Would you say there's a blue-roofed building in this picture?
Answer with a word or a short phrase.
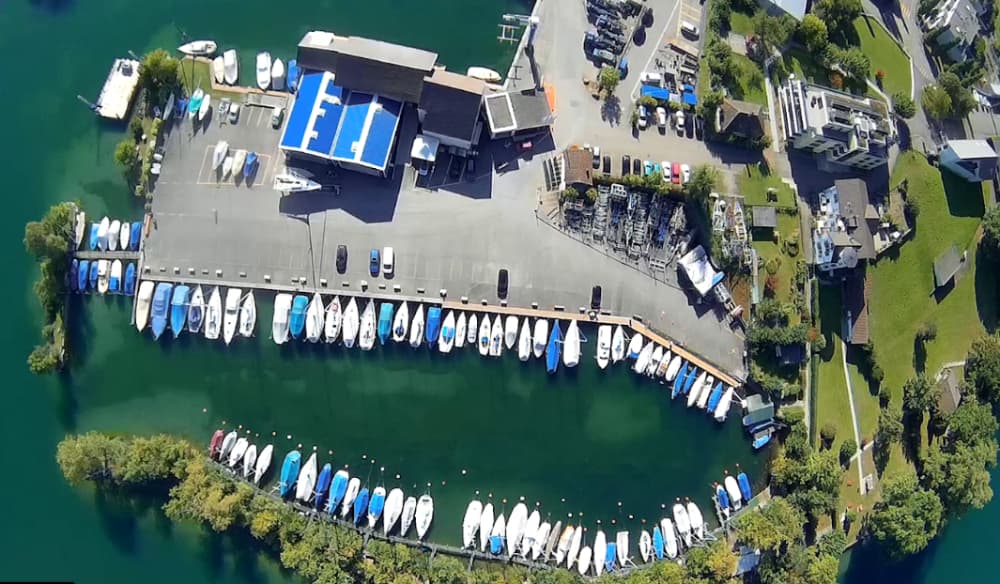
Yes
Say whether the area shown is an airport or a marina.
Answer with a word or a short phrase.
marina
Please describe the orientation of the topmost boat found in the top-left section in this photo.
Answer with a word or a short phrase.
horizontally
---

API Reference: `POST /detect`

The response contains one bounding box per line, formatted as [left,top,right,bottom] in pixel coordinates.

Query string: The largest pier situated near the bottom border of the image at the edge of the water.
[203,451,769,583]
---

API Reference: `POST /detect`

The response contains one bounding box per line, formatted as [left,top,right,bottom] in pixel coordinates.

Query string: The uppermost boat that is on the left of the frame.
[178,33,220,55]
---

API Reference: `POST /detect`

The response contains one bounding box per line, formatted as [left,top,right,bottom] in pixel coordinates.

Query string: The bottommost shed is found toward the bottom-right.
[738,545,760,573]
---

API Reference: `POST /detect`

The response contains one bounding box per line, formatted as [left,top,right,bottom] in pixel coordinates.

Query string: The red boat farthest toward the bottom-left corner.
[211,427,226,458]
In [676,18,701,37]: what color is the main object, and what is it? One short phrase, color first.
white vehicle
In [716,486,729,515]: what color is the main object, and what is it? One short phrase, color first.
blue boat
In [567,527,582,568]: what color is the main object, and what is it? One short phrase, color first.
white boat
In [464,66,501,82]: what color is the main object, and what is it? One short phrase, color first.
white boat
